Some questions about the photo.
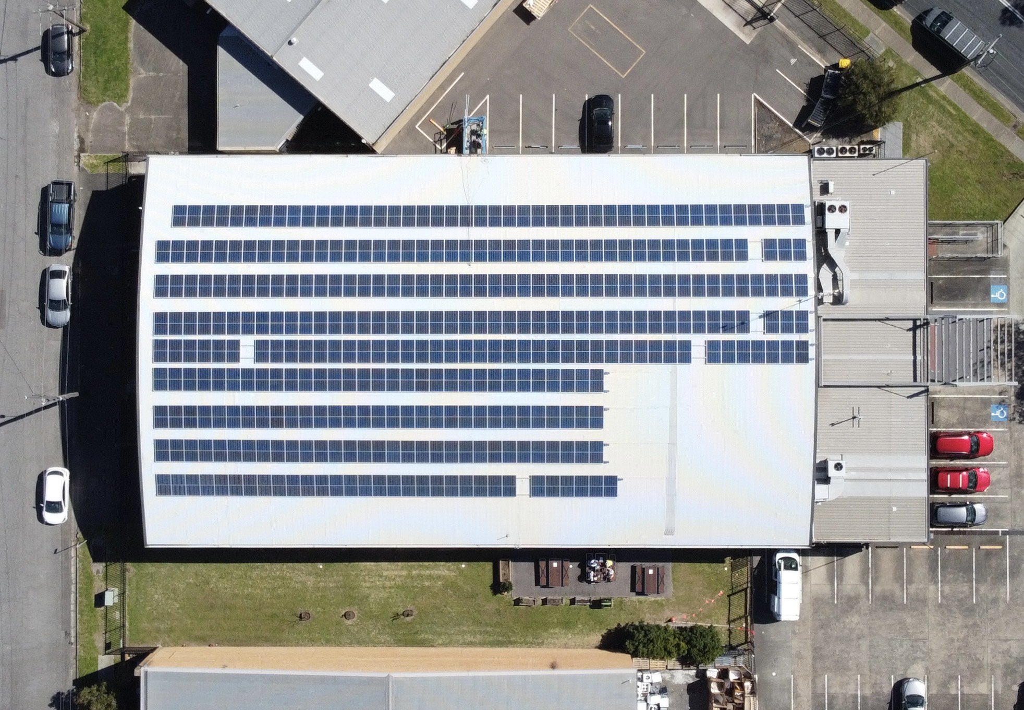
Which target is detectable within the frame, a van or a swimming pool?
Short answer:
van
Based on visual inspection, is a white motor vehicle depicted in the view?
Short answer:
Yes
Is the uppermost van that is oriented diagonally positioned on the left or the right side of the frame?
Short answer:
right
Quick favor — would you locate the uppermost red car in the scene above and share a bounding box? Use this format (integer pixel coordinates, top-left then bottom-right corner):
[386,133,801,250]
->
[930,431,992,459]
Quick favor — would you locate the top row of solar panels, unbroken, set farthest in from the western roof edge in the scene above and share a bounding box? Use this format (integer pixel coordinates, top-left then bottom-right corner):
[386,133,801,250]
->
[171,204,810,226]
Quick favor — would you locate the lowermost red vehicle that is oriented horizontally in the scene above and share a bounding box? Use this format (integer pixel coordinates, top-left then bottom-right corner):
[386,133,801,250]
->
[930,466,989,493]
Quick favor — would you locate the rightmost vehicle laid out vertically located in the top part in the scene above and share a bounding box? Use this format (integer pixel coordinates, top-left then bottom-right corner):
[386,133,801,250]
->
[588,94,616,153]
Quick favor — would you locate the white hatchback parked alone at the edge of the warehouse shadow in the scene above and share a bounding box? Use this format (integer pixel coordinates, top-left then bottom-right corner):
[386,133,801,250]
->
[42,466,71,523]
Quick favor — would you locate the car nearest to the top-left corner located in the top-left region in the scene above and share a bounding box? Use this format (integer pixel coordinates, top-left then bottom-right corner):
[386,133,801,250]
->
[47,23,75,78]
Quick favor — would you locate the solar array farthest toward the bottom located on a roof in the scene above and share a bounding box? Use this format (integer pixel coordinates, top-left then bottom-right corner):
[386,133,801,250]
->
[156,474,623,496]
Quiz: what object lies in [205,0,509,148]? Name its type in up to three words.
building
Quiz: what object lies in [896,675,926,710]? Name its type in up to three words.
car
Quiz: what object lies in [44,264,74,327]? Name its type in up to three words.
car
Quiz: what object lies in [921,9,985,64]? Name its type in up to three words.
van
